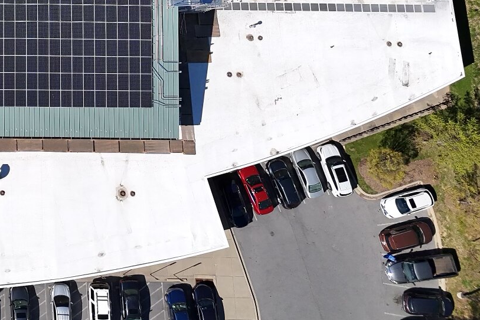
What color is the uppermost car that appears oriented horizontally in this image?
white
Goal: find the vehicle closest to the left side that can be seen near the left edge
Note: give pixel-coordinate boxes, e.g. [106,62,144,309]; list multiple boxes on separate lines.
[9,287,33,320]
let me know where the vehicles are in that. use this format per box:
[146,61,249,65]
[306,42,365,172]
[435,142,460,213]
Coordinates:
[268,159,302,209]
[401,290,457,318]
[120,279,144,320]
[293,149,325,198]
[320,143,356,198]
[222,175,251,225]
[379,189,439,216]
[384,256,468,285]
[51,283,74,320]
[165,287,191,320]
[378,221,438,250]
[9,287,33,320]
[88,280,114,320]
[239,168,271,215]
